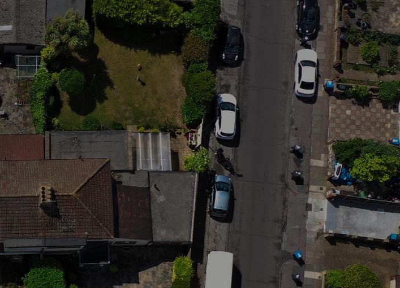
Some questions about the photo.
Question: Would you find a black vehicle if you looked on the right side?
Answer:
Yes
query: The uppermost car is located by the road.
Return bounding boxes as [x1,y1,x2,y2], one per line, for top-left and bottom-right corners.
[295,0,323,41]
